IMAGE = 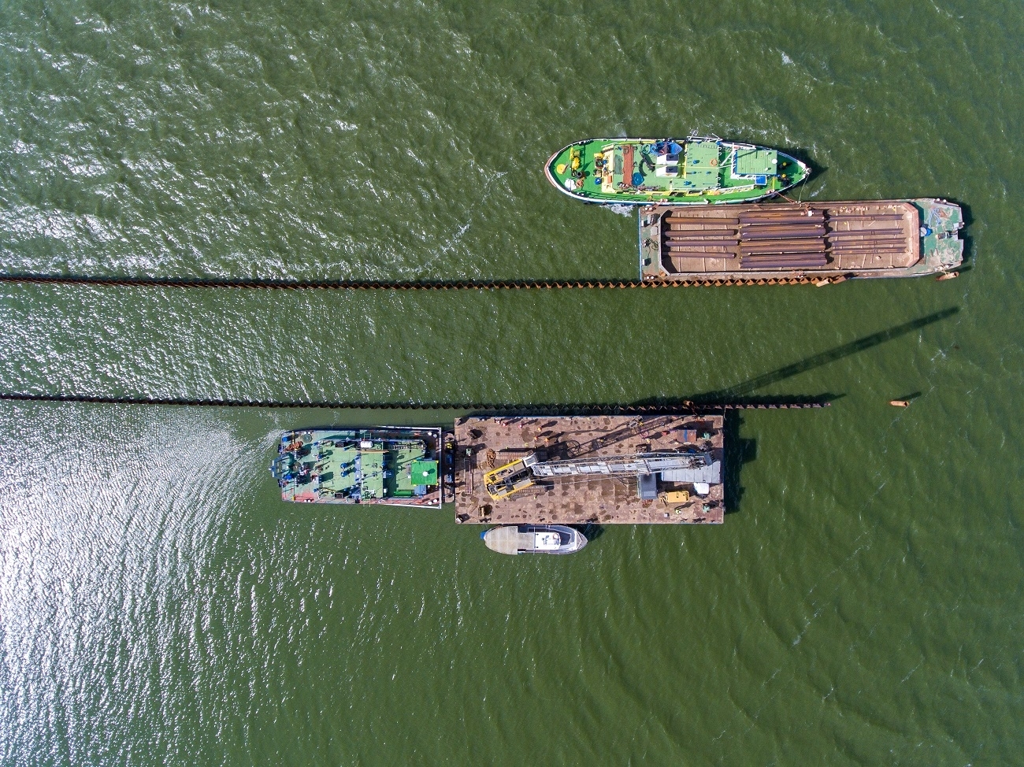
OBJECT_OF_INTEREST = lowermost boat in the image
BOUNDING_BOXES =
[481,524,587,555]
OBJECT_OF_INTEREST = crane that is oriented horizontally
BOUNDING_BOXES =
[486,422,719,499]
